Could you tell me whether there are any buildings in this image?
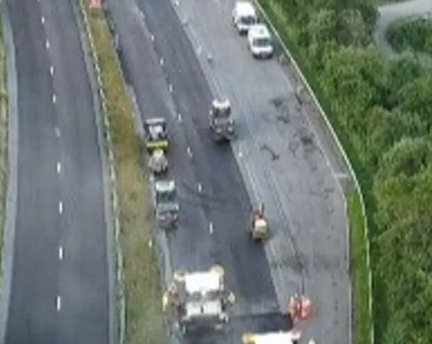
No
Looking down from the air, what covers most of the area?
paved ground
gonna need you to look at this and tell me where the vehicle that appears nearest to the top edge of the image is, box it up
[233,5,256,34]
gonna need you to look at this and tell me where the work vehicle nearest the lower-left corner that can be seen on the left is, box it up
[152,181,178,230]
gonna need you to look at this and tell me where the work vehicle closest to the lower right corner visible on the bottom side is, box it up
[246,204,271,239]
